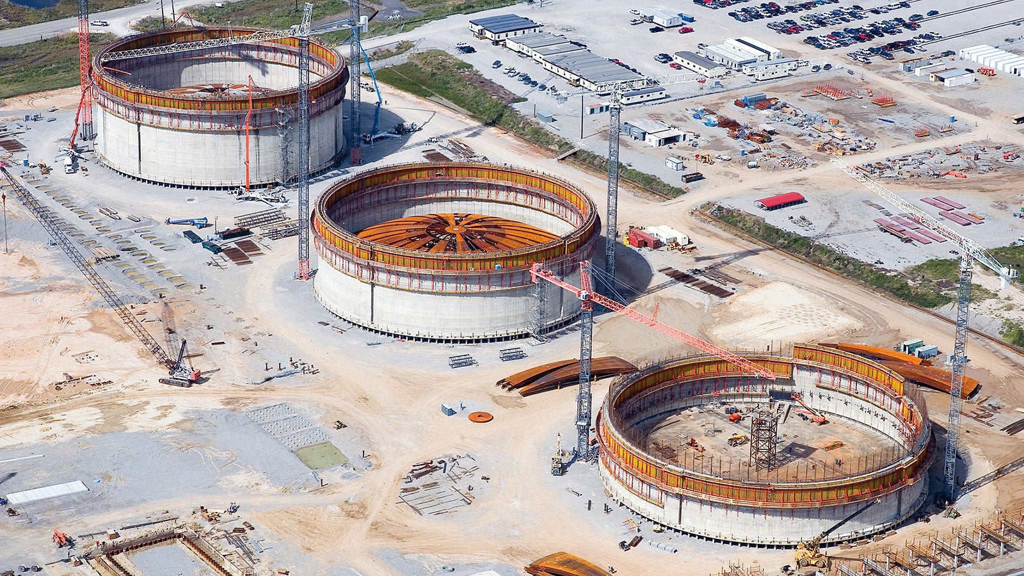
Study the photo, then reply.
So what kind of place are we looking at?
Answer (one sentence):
This image shows an industrial area.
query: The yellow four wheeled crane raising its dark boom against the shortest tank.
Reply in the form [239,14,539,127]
[793,500,880,570]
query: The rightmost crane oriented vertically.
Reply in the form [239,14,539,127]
[829,159,1020,505]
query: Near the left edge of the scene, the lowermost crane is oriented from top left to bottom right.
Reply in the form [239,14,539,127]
[0,151,205,383]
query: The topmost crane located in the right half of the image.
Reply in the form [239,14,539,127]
[554,57,826,296]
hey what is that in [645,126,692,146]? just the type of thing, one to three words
building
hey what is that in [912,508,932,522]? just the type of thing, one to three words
work vehicle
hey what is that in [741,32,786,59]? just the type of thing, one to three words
shed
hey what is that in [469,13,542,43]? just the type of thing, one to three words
trailer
